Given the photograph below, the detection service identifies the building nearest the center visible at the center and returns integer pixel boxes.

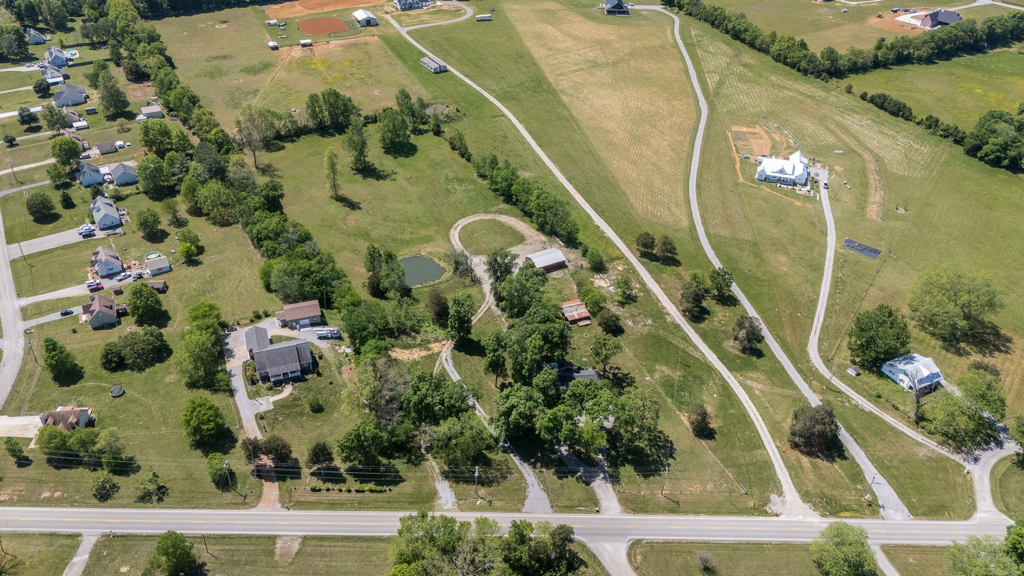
[523,249,567,273]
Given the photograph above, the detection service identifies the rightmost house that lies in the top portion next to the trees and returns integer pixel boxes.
[920,12,959,29]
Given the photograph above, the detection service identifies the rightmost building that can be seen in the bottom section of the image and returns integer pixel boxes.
[882,353,943,393]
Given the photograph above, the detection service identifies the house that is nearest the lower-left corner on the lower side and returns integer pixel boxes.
[38,395,103,433]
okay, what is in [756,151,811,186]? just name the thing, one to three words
house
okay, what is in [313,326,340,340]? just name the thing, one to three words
vehicle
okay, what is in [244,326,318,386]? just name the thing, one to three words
house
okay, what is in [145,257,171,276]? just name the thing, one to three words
building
